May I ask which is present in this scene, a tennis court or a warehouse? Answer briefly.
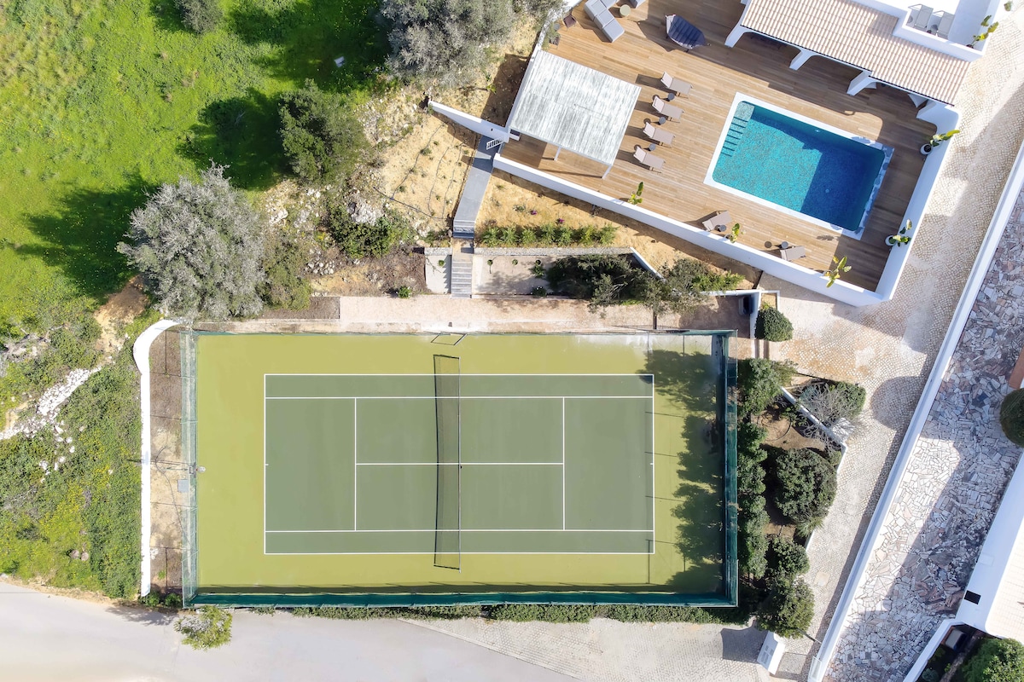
tennis court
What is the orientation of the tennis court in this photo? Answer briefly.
from side to side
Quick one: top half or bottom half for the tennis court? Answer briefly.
bottom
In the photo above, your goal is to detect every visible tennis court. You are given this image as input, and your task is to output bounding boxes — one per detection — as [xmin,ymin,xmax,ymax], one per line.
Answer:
[193,336,720,595]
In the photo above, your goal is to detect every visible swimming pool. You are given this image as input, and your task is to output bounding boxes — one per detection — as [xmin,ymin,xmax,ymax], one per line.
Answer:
[704,92,893,239]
